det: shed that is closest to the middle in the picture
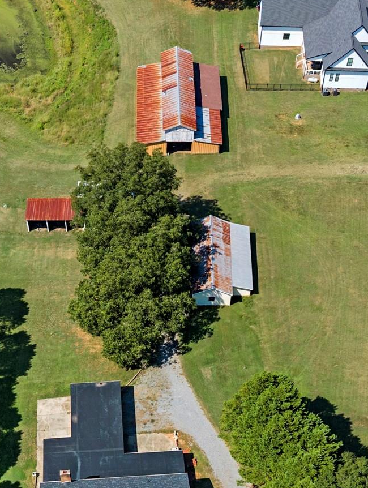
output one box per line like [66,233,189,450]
[190,215,255,307]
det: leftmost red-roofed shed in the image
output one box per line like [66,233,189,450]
[25,197,84,231]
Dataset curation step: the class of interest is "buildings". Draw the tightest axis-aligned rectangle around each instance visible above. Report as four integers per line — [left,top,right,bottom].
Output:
[25,197,84,231]
[257,0,368,89]
[190,215,255,307]
[136,46,223,155]
[37,380,190,488]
